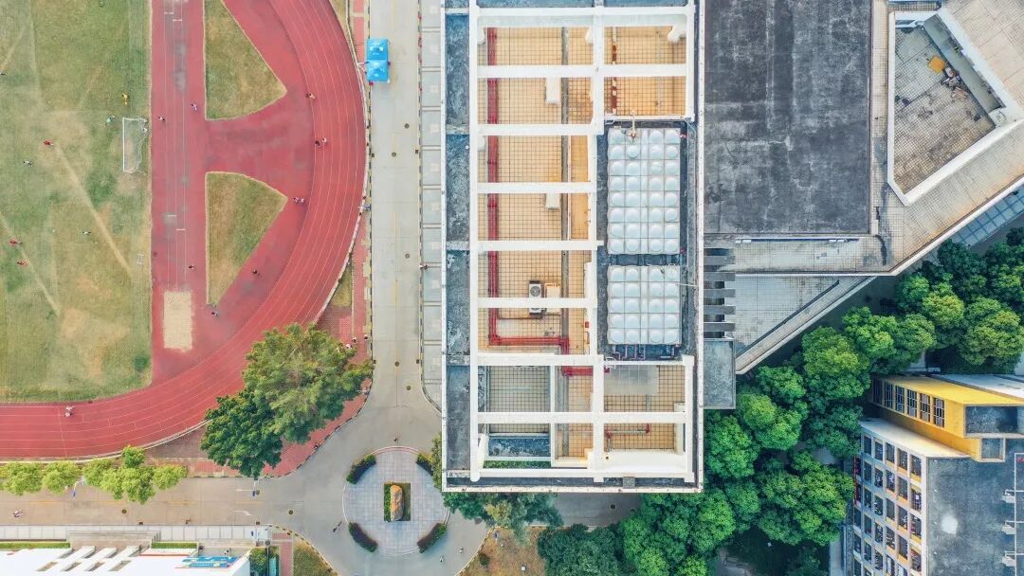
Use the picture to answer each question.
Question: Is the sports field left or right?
left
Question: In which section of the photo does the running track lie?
left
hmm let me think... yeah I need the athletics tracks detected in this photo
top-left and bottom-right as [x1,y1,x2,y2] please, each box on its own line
[0,0,368,462]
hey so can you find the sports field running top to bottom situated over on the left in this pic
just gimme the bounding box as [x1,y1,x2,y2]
[0,0,149,401]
